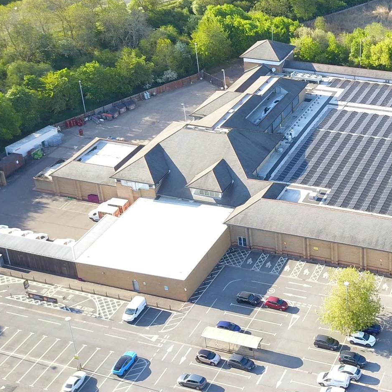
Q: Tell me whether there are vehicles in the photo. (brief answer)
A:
Yes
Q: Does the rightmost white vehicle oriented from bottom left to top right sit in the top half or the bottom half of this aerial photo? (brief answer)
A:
bottom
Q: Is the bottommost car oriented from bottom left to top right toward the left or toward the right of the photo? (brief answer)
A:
left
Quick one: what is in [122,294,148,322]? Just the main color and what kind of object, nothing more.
white vehicle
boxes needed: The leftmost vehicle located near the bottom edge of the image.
[60,371,89,392]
